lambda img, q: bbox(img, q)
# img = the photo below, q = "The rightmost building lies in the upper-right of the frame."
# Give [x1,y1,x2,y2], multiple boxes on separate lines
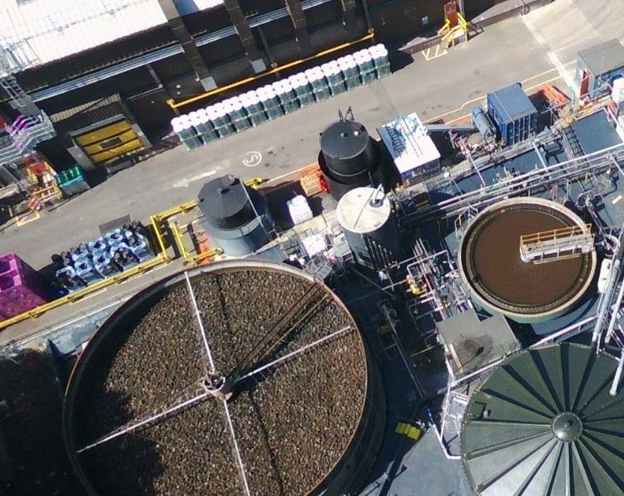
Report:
[574,38,624,103]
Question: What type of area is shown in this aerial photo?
industrial area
